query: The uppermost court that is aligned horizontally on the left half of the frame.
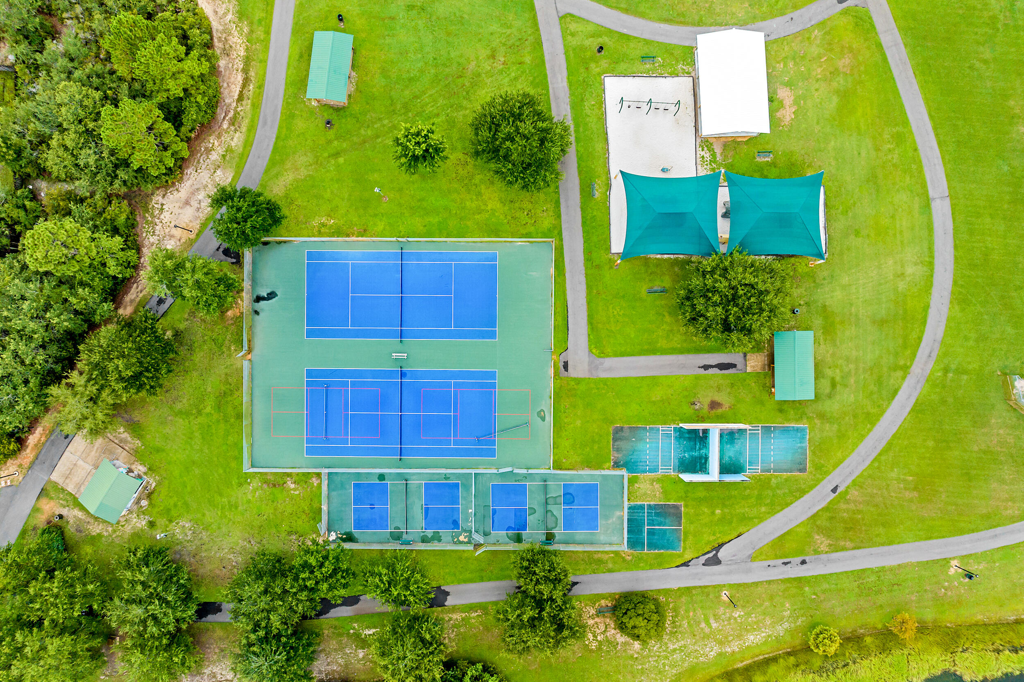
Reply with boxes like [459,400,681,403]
[251,241,552,355]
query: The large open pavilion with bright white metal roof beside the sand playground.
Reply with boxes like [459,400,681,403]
[695,28,770,137]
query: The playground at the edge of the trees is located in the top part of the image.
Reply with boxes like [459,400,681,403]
[604,75,828,255]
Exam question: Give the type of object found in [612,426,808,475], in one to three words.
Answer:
sports court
